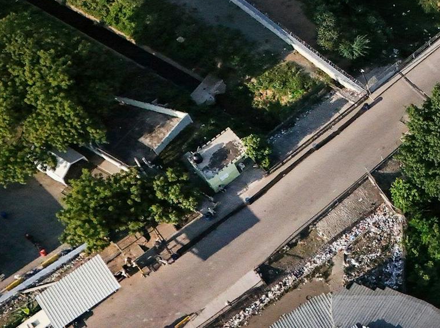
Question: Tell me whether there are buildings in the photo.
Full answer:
Yes, this view includes a building.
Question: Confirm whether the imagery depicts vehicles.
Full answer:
No, I can't see a single vehicle in this photo.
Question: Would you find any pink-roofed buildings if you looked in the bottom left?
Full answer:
No, I can find no pink-roofed building in the bottom left.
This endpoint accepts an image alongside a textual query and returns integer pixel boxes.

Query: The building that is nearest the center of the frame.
[186,127,250,195]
